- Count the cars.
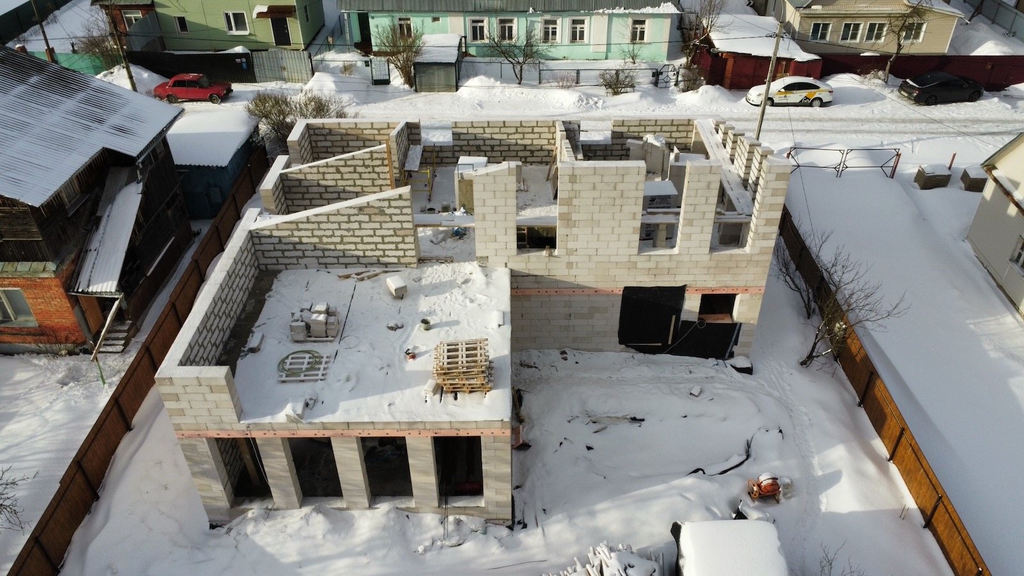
3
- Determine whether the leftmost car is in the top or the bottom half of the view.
top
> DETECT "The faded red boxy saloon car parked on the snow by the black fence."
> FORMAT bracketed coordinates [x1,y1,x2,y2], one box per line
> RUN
[152,72,238,105]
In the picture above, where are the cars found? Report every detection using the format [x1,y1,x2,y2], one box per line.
[152,72,238,105]
[744,68,838,105]
[898,69,983,105]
